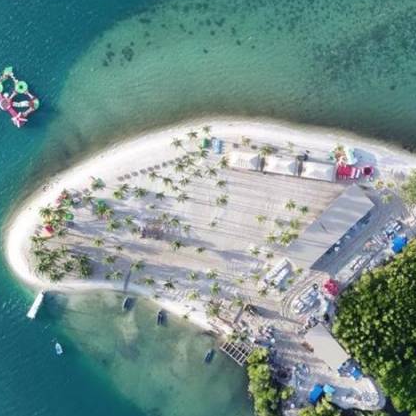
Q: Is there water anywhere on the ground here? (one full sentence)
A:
Yes, water can be seen from above here.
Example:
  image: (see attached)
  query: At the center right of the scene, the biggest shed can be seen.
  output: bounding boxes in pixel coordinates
[288,184,378,275]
